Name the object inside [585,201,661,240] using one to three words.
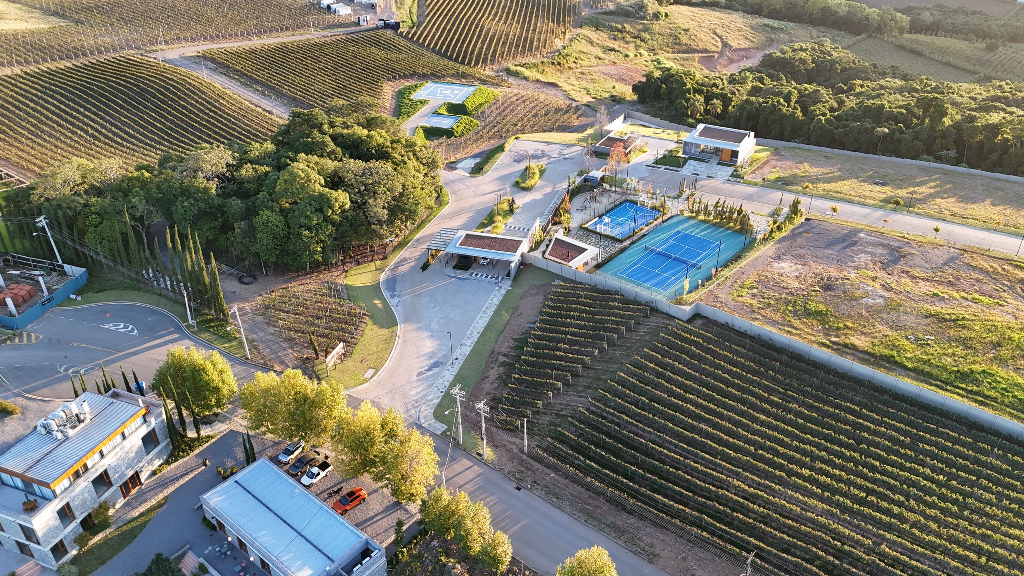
basketball court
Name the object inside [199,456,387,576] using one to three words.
building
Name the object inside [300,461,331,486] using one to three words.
truck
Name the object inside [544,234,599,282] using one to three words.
shed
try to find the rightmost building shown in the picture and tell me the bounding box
[683,119,751,164]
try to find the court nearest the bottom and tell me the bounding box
[619,230,722,291]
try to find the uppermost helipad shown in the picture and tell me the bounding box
[401,79,500,116]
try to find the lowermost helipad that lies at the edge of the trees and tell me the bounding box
[421,113,479,141]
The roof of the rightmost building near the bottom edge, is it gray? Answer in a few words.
No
